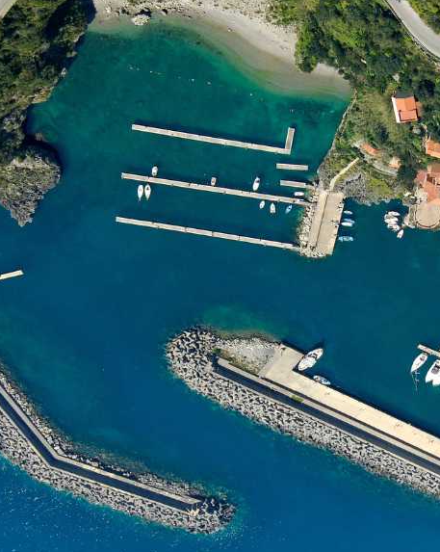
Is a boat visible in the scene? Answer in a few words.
Yes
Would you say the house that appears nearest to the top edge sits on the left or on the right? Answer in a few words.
right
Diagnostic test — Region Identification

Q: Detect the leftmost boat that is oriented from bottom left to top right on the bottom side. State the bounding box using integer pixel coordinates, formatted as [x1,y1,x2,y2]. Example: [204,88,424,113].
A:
[297,349,322,374]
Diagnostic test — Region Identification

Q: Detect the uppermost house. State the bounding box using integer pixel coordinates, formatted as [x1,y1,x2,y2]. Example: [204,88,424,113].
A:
[397,96,417,123]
